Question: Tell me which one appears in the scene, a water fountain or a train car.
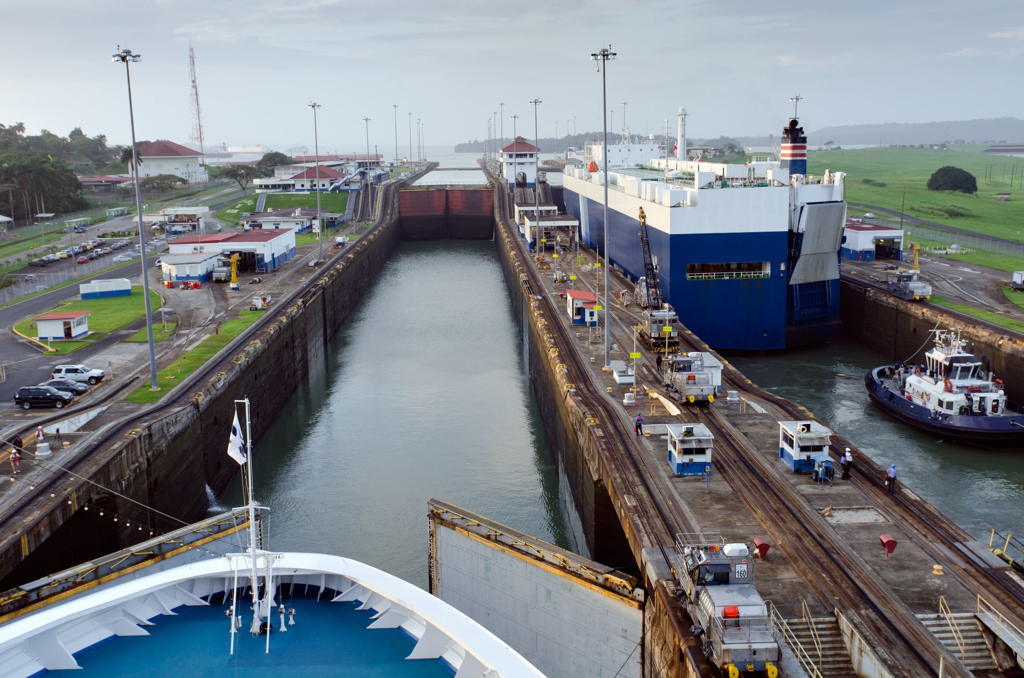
train car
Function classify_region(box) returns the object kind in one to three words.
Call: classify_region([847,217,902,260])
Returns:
building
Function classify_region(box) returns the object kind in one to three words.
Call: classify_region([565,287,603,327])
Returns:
shed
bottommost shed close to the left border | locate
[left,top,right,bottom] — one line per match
[20,298,103,342]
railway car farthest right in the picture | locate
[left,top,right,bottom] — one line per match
[886,267,926,300]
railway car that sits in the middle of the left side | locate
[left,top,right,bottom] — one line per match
[211,255,231,279]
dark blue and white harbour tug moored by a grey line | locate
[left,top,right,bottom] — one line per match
[854,314,1024,459]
